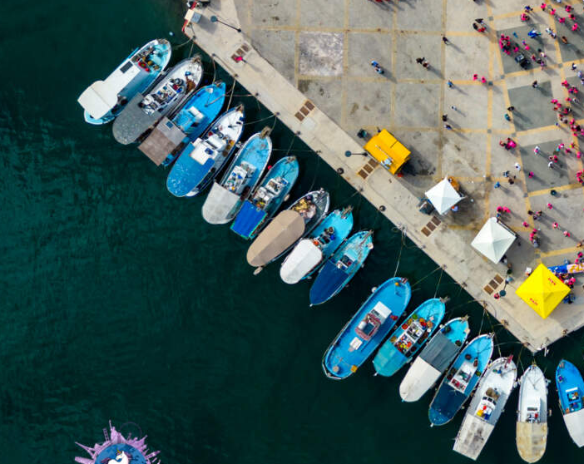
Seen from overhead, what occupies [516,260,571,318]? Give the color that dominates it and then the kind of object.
yellow gazebo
